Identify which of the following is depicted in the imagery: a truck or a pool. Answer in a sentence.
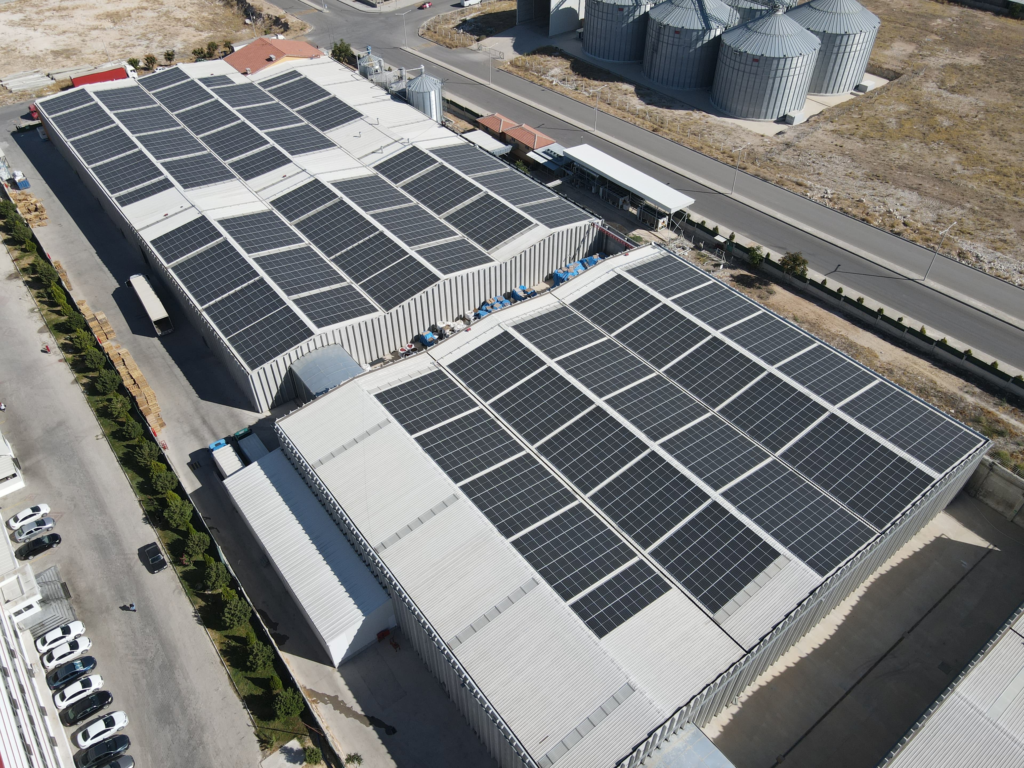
Of the two, only a truck appears.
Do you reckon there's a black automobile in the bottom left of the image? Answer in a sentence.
Yes, I can see a black automobile in the bottom left of the image.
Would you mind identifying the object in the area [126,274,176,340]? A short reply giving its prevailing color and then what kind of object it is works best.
white truck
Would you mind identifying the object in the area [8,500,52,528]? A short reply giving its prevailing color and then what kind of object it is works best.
white car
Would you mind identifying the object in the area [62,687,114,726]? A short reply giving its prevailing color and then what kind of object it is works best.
black car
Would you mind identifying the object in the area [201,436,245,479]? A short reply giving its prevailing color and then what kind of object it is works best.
white truck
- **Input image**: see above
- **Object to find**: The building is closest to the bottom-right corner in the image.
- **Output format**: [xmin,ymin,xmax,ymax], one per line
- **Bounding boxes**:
[872,596,1024,768]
